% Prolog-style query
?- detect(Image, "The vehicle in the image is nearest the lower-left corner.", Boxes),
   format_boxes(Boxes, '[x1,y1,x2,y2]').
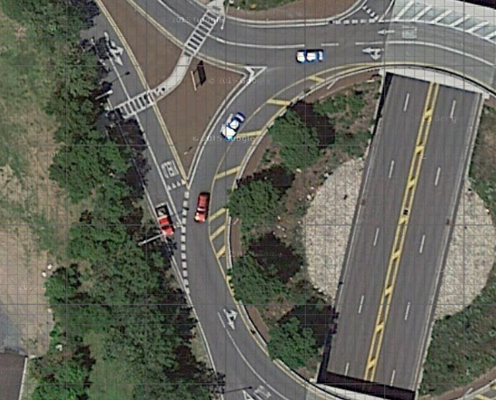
[156,203,175,233]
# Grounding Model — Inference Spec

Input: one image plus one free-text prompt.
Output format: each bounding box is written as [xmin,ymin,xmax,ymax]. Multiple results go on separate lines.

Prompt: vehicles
[222,111,246,139]
[195,192,209,223]
[296,50,322,62]
[156,203,175,233]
